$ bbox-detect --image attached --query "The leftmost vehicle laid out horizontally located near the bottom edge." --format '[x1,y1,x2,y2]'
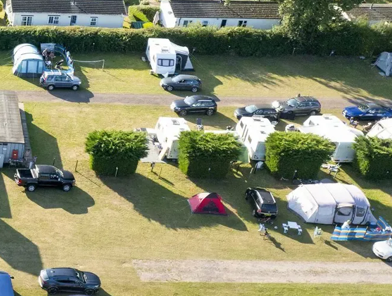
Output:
[37,262,105,295]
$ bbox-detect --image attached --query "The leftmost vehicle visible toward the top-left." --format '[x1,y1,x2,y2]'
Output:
[39,70,84,91]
